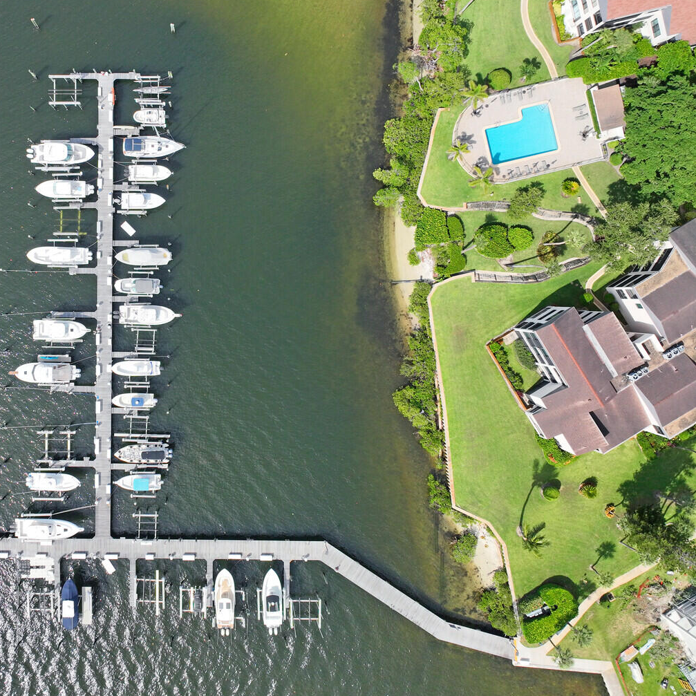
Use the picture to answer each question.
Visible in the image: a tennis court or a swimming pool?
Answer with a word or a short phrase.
swimming pool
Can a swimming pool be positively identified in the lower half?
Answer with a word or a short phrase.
No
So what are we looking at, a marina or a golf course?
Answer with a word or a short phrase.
marina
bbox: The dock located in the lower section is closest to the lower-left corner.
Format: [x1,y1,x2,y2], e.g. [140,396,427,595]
[19,557,54,581]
